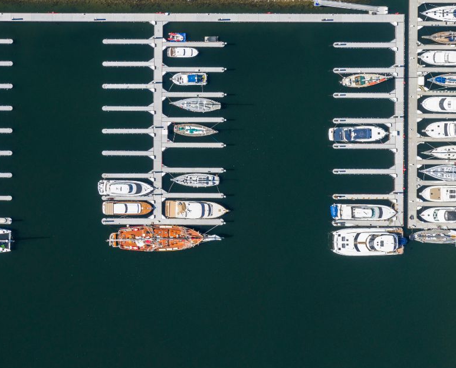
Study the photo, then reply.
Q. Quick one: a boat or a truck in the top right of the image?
boat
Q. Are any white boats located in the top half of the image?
Yes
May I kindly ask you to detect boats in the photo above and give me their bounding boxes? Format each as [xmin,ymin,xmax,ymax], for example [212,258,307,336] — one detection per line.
[330,203,400,222]
[166,33,184,42]
[413,229,456,244]
[174,123,219,137]
[419,6,456,21]
[0,228,14,252]
[164,200,230,220]
[97,180,155,196]
[330,227,406,255]
[421,30,456,45]
[417,48,456,66]
[416,207,456,225]
[204,36,219,42]
[327,125,390,145]
[422,120,456,138]
[167,48,199,57]
[428,72,456,88]
[169,71,207,86]
[340,72,402,90]
[102,199,156,218]
[170,97,220,115]
[416,165,456,181]
[418,94,456,113]
[417,186,456,202]
[172,174,219,190]
[424,146,456,159]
